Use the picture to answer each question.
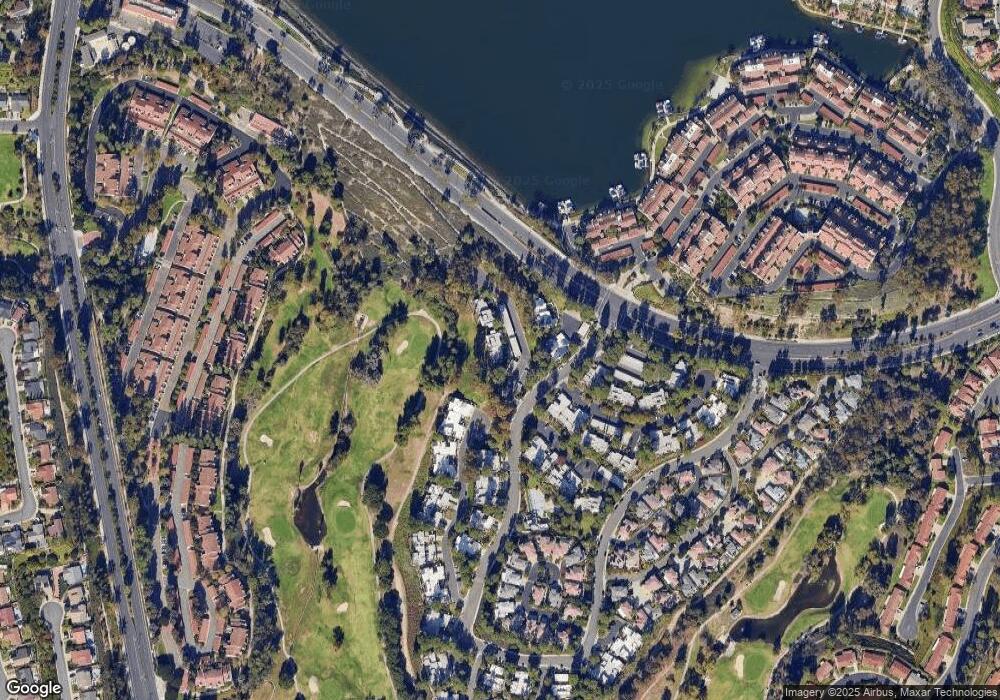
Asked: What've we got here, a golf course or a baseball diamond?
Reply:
golf course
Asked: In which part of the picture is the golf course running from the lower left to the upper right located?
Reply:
bottom right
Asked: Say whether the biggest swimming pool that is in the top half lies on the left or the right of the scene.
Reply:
right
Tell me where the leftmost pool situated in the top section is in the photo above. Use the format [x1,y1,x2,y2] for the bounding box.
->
[792,203,813,223]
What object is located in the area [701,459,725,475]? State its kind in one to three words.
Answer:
house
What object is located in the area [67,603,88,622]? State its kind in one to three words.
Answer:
house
